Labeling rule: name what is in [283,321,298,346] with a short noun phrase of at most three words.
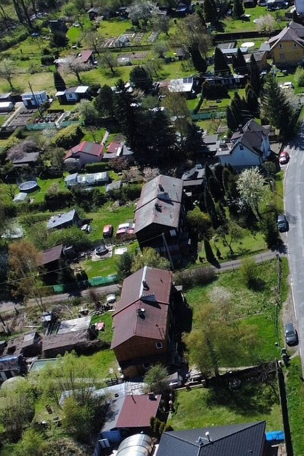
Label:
car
